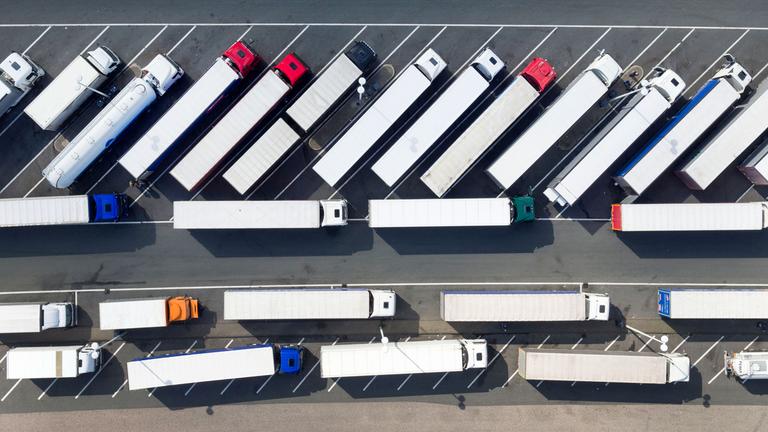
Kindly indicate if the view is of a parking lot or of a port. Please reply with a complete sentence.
The area seen from above is a parking lot.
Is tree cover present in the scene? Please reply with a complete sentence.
No, tree cover can't be seen anywhere here.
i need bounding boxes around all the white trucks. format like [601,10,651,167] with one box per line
[482,50,626,190]
[0,193,129,226]
[127,338,304,390]
[610,203,768,232]
[670,77,768,190]
[370,46,508,188]
[6,344,105,379]
[41,53,182,190]
[118,39,262,182]
[518,346,690,383]
[313,44,452,188]
[172,199,350,230]
[418,57,556,198]
[0,301,70,333]
[367,196,536,228]
[170,50,314,193]
[320,336,490,376]
[99,294,202,330]
[656,287,768,319]
[610,57,755,196]
[539,68,688,209]
[25,44,122,131]
[224,286,398,320]
[440,290,610,321]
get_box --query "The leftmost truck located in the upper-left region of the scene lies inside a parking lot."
[0,50,48,121]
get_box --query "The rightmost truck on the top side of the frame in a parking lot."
[736,136,768,188]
